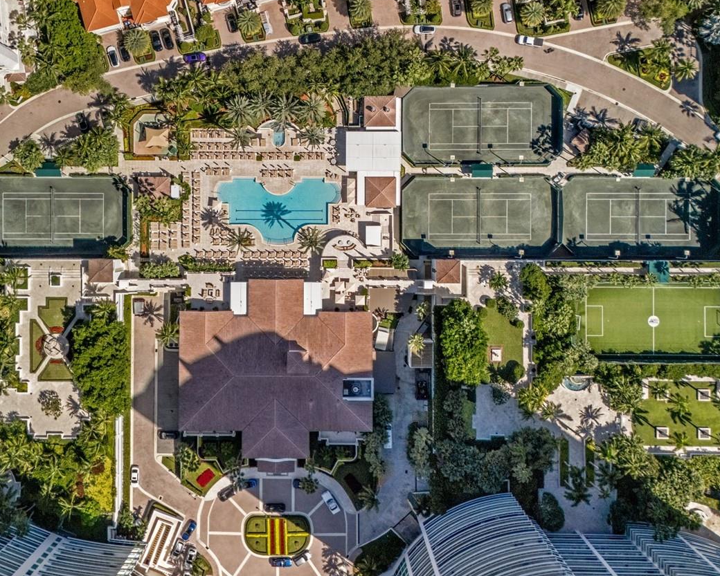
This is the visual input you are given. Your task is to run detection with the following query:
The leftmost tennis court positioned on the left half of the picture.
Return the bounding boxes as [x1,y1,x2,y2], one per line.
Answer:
[0,175,131,259]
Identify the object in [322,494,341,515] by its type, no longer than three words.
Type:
car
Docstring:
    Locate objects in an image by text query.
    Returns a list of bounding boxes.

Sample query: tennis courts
[0,175,131,259]
[401,176,562,259]
[562,176,720,259]
[402,82,568,166]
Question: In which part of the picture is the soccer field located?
right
